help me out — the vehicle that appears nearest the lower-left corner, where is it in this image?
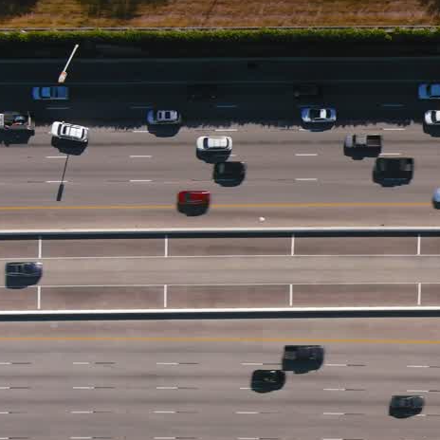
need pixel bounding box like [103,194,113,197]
[6,261,45,276]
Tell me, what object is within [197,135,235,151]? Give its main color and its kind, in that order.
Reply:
white car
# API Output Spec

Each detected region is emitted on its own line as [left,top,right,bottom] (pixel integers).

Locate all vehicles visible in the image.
[179,189,212,205]
[253,371,286,385]
[345,132,383,148]
[197,135,235,151]
[148,108,184,125]
[33,84,71,101]
[282,345,325,362]
[301,108,337,122]
[376,159,415,176]
[6,261,45,276]
[51,122,91,141]
[217,162,248,177]
[391,396,425,409]
[434,189,440,202]
[426,109,440,125]
[419,82,440,98]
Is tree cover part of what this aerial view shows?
No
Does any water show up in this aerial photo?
No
